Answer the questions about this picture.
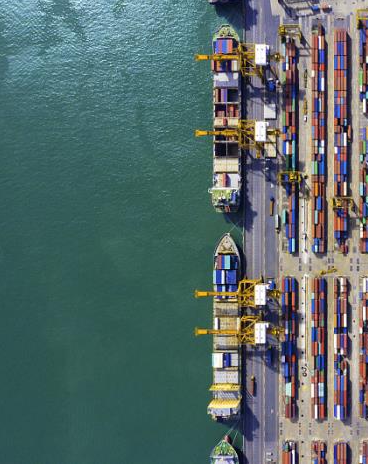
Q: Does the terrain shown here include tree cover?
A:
No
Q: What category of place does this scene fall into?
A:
port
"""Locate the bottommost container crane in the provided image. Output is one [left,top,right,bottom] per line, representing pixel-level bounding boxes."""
[194,312,282,344]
